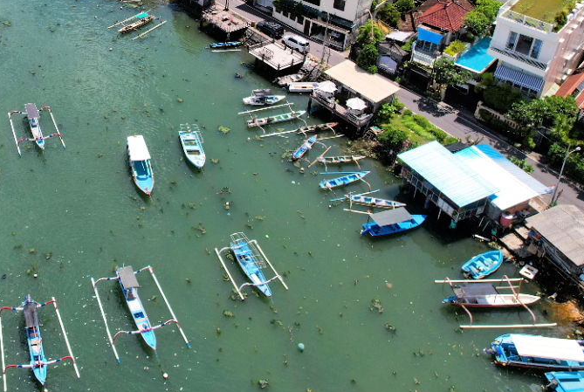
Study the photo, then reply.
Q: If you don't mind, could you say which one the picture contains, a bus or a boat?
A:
boat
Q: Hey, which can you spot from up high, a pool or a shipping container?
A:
pool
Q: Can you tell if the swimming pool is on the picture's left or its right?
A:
right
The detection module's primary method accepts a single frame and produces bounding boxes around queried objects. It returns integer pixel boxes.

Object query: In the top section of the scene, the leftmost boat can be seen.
[9,94,68,157]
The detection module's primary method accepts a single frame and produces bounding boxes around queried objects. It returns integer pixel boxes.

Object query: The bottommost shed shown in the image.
[519,204,584,285]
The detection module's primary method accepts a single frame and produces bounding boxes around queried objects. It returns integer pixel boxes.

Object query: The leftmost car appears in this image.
[254,18,285,40]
